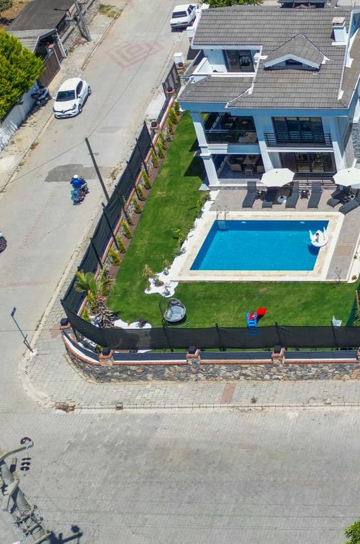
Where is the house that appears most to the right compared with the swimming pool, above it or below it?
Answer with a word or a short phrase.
above it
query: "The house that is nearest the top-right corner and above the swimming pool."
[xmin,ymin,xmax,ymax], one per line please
[173,2,360,188]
